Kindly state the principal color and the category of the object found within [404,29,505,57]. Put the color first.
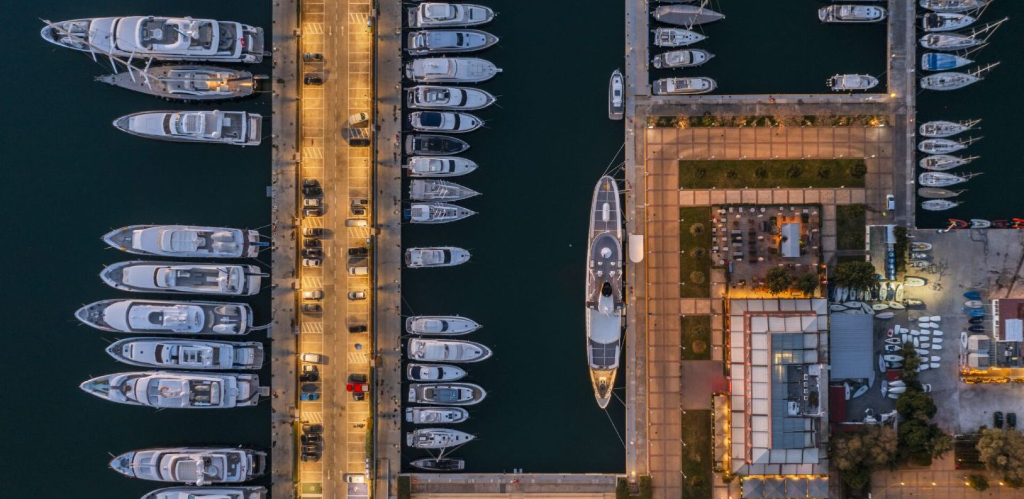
blue boat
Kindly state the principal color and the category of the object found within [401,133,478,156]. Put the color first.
black boat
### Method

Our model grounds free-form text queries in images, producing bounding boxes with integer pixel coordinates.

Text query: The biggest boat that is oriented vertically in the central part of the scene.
[586,144,632,450]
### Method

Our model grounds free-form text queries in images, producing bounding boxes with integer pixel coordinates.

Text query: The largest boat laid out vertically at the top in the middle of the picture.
[607,70,625,120]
